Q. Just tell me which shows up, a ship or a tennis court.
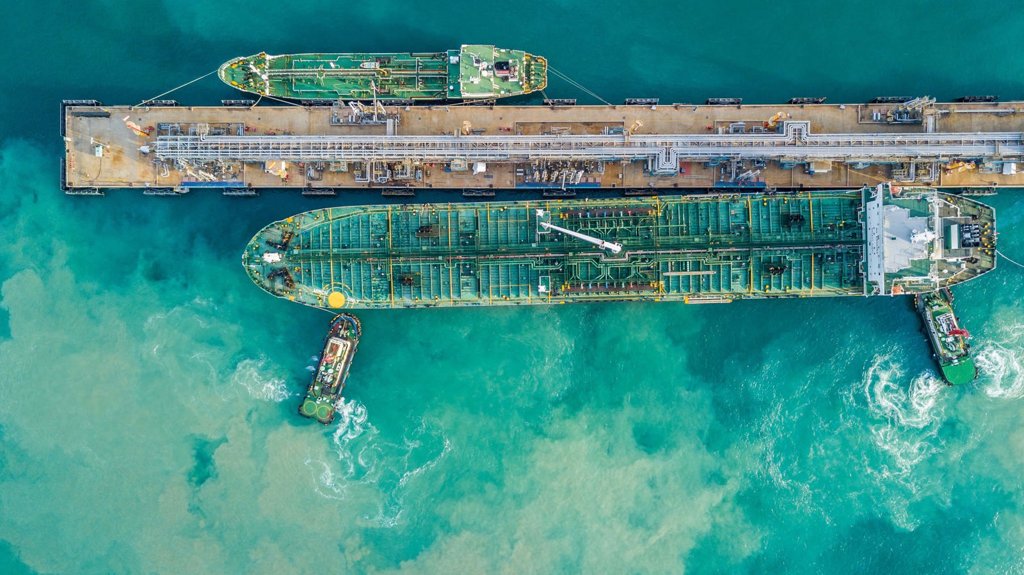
ship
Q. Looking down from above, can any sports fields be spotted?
No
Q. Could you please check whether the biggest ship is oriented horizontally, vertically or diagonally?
horizontally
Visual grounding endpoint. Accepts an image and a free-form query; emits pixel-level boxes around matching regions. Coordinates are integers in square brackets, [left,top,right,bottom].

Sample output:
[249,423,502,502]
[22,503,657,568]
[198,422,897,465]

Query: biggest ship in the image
[241,184,1007,309]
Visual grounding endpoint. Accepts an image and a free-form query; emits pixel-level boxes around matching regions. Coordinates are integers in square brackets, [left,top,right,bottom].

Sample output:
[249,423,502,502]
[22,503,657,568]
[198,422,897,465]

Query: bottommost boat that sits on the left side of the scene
[298,312,362,425]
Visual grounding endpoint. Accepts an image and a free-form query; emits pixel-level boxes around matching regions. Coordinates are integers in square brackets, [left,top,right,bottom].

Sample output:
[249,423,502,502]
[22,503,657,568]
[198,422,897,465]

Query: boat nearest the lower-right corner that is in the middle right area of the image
[911,288,979,387]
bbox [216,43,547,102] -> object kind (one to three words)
ship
